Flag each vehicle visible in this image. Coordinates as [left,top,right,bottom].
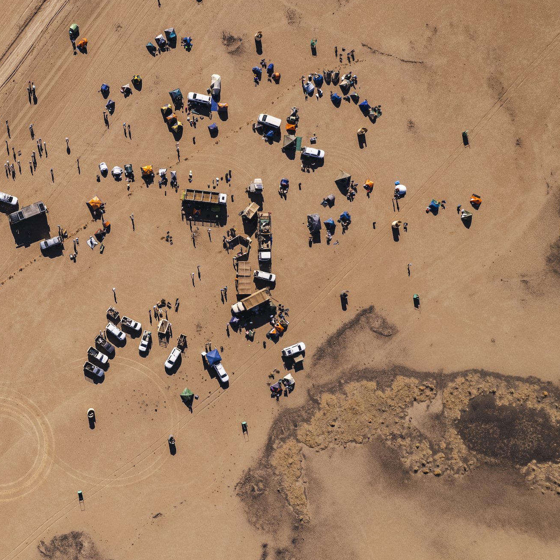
[103,321,126,340]
[10,202,47,226]
[212,361,229,384]
[164,344,182,368]
[257,215,272,260]
[118,314,143,330]
[81,360,105,376]
[85,345,108,363]
[91,333,114,352]
[231,285,273,313]
[138,327,153,352]
[183,189,225,206]
[298,146,324,159]
[0,192,18,206]
[256,113,282,128]
[248,176,264,194]
[38,235,65,250]
[186,93,212,105]
[280,341,305,356]
[250,269,276,282]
